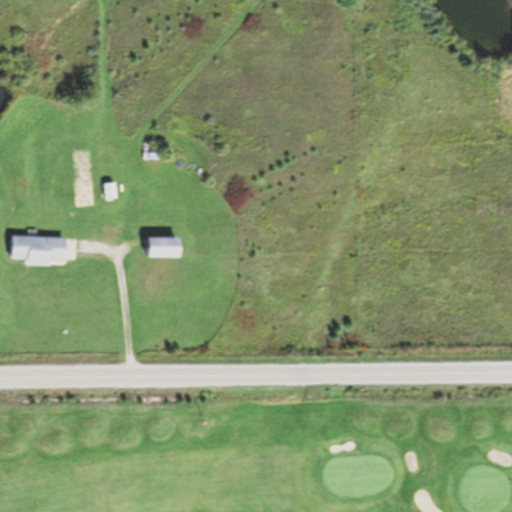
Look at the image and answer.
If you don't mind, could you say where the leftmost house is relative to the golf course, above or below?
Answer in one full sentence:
The leftmost house appears above the golf course in the picture.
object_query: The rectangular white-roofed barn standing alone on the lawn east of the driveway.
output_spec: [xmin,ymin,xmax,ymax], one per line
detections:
[149,237,183,258]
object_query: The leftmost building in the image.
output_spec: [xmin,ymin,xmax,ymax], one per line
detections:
[12,230,68,266]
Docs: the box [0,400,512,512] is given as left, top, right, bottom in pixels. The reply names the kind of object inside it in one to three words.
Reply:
golf course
